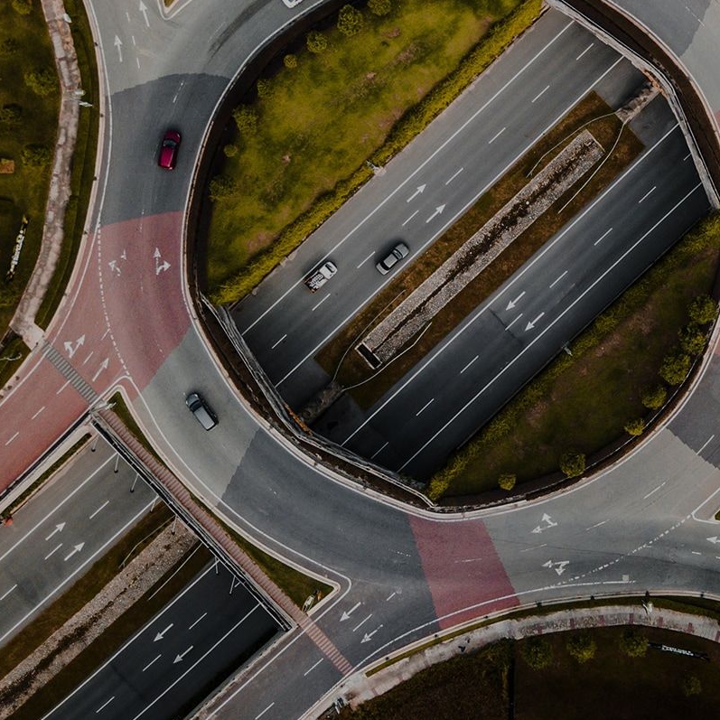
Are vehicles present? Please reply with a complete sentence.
Yes, looking at the shot, I can spot a vehicle.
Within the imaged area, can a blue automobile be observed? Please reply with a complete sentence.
No, there's no blue automobile here.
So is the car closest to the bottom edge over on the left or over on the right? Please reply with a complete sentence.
The car closest to the bottom edge appears in the left half of the scene.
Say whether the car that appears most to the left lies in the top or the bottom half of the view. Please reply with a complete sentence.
It is in the top half that the car that appears most to the left appears.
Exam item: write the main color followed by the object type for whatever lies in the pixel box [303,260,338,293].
white truck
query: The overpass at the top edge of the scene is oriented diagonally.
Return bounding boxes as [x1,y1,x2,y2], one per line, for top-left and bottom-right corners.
[544,0,720,214]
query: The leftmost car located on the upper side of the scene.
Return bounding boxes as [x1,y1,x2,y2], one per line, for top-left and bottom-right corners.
[157,131,181,169]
